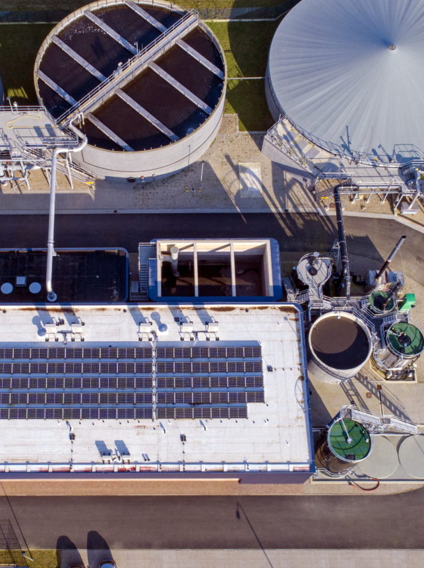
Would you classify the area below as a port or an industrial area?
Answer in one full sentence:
What you see here is an industrial area.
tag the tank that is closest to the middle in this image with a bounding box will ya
[294,246,334,300]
